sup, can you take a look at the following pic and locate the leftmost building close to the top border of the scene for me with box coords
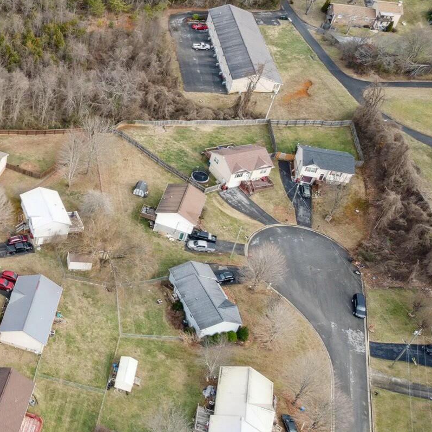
[204,4,283,96]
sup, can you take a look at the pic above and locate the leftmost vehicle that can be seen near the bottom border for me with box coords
[280,412,300,432]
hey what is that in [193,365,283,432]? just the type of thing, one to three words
house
